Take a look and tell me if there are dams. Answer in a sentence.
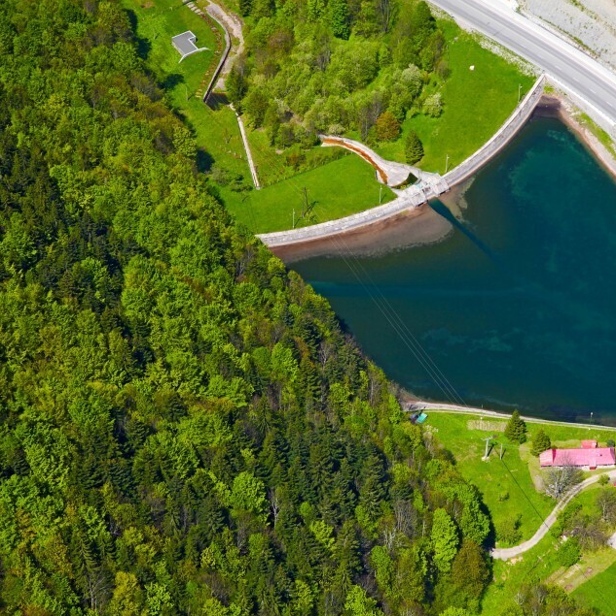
Yes, this view includes a dam.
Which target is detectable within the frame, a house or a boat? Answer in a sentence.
The image shows a house.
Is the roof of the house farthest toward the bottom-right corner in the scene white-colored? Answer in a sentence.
No, the color of the roof of the house farthest toward the bottom-right corner is pink.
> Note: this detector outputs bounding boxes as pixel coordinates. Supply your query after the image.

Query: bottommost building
[539,441,615,475]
